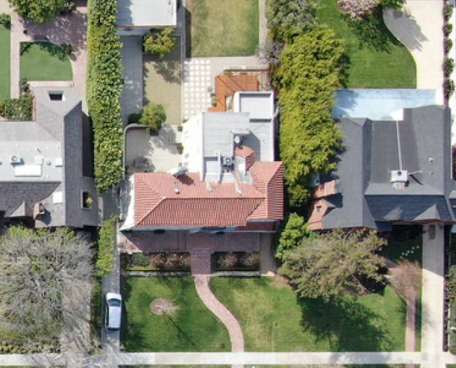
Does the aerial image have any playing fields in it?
No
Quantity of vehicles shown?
one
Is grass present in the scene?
Yes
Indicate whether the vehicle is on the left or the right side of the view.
left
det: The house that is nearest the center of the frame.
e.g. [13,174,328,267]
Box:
[124,92,283,231]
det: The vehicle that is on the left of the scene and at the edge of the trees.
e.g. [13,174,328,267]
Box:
[102,293,123,331]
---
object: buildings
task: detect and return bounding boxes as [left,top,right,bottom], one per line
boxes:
[296,106,456,232]
[124,92,283,231]
[111,0,176,36]
[0,86,101,226]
